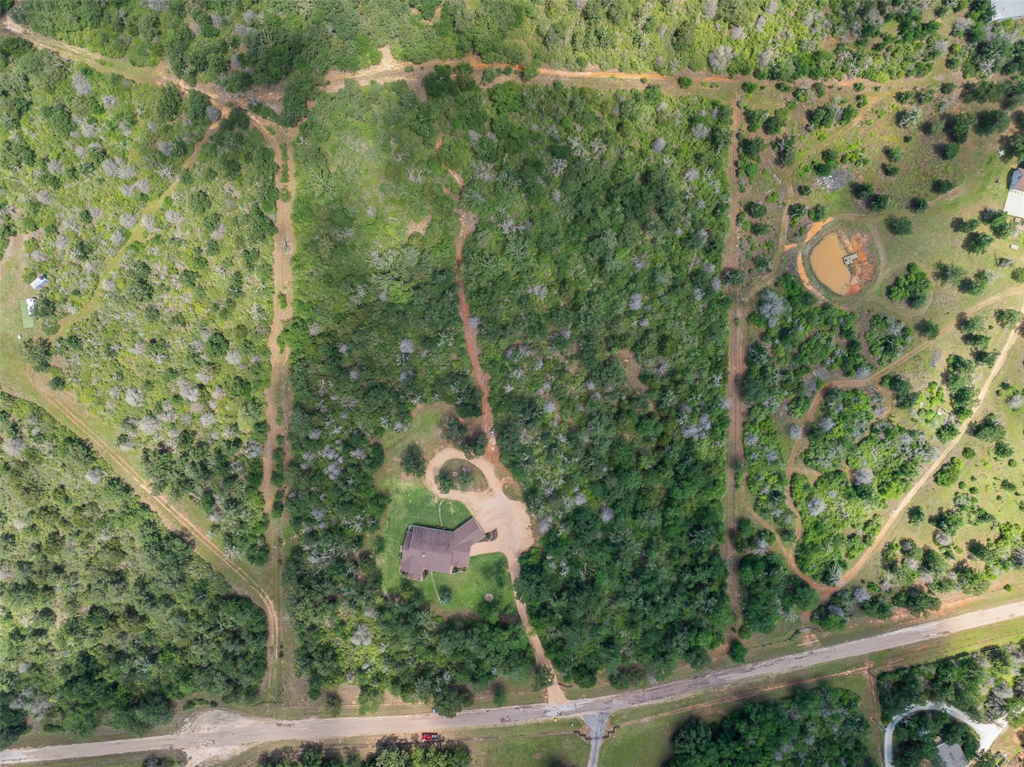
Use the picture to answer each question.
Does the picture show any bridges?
No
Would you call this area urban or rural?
rural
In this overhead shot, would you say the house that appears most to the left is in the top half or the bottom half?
bottom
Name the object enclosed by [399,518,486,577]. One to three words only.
house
